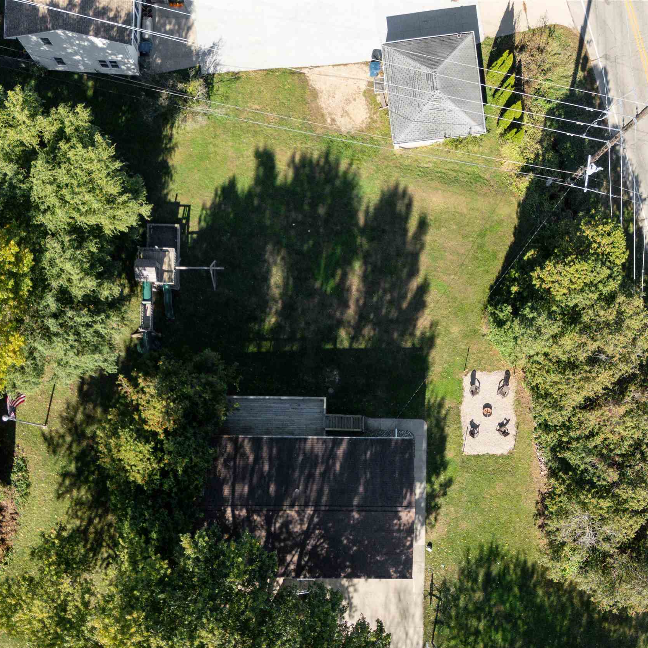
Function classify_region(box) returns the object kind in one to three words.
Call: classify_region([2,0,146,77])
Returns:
house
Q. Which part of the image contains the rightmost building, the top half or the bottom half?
top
